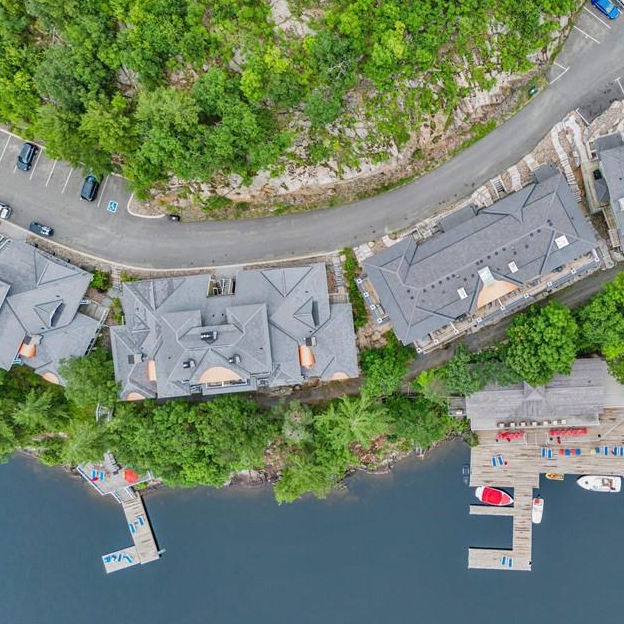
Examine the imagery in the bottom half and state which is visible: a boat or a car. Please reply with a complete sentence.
What appears in the bottom half is a boat.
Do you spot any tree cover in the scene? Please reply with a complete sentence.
Yes, tree cover can be seen from above here.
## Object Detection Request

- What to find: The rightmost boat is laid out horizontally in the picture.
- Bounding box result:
[577,477,624,493]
